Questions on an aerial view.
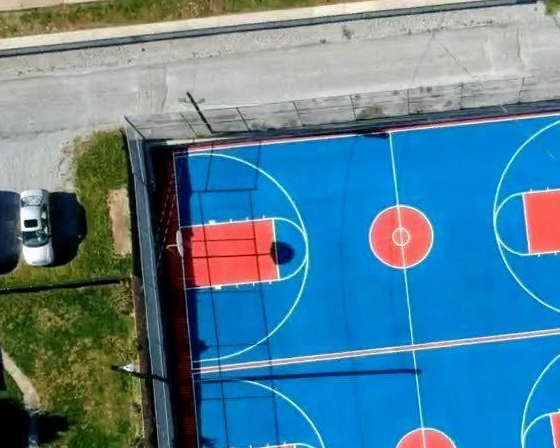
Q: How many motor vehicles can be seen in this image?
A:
one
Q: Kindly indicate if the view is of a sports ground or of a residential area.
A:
sports ground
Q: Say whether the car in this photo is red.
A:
No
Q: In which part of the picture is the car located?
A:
left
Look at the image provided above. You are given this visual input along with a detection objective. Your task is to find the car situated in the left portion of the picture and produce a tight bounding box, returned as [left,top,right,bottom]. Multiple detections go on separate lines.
[12,184,55,266]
